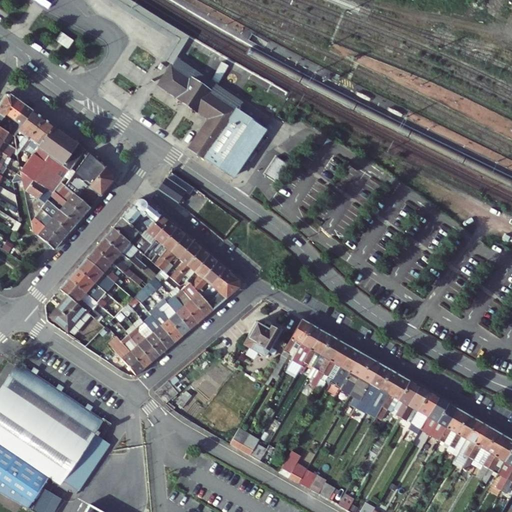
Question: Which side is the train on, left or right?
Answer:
right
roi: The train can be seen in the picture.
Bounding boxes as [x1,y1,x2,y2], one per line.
[249,48,512,188]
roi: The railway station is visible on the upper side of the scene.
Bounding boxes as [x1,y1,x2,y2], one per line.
[161,66,231,159]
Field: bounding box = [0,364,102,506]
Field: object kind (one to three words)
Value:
building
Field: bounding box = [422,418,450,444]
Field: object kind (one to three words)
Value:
shed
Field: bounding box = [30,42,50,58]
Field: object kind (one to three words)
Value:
vehicle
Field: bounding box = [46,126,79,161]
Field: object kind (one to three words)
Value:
house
